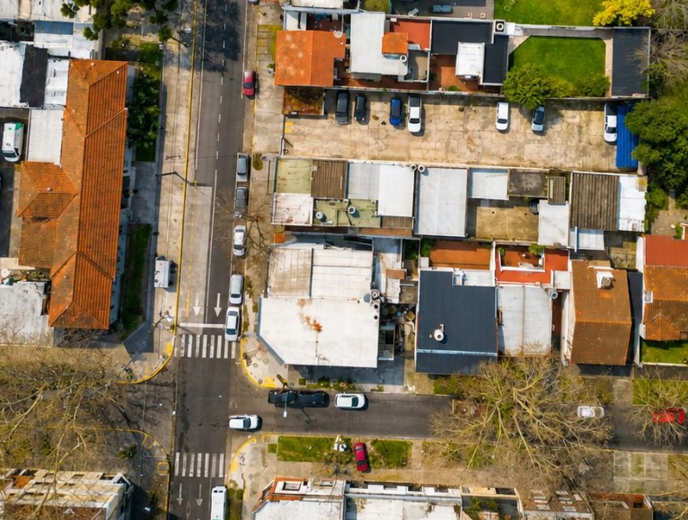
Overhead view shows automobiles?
Yes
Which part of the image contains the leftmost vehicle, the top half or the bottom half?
top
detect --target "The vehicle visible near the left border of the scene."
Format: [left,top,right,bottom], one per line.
[1,122,22,161]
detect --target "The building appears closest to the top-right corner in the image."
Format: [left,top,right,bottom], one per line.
[608,27,649,97]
